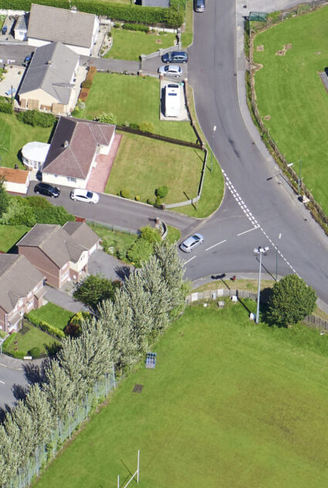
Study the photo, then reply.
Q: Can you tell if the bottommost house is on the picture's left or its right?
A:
left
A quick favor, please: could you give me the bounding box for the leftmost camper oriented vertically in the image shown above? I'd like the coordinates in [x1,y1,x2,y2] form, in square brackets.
[166,80,181,115]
